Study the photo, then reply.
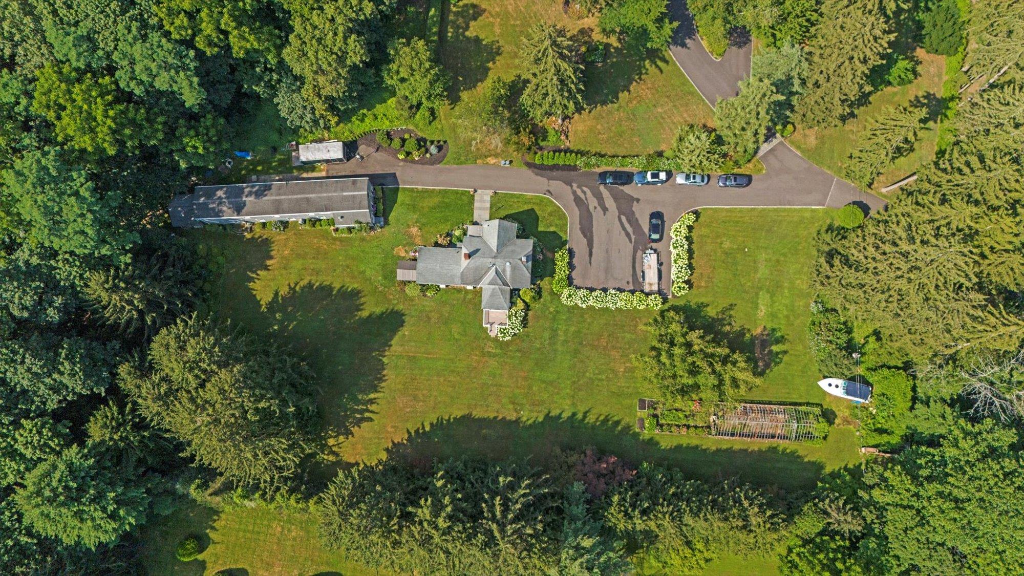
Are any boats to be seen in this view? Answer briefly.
Yes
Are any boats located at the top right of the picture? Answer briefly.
No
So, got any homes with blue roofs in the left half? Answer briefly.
No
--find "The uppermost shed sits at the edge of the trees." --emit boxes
[292,142,348,168]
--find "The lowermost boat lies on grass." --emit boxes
[817,379,870,405]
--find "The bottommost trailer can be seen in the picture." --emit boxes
[640,244,661,294]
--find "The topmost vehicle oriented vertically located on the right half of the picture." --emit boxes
[647,211,664,244]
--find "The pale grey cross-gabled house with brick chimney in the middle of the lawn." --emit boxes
[397,219,533,337]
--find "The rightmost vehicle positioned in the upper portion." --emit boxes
[715,173,749,189]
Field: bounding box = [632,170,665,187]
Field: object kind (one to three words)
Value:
car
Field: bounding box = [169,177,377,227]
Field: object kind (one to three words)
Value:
house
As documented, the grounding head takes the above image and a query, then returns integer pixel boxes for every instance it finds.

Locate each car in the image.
[596,170,630,186]
[715,173,749,189]
[674,172,707,187]
[632,170,665,187]
[647,211,664,244]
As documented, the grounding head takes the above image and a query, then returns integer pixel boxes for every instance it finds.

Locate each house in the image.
[397,219,533,337]
[169,177,377,227]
